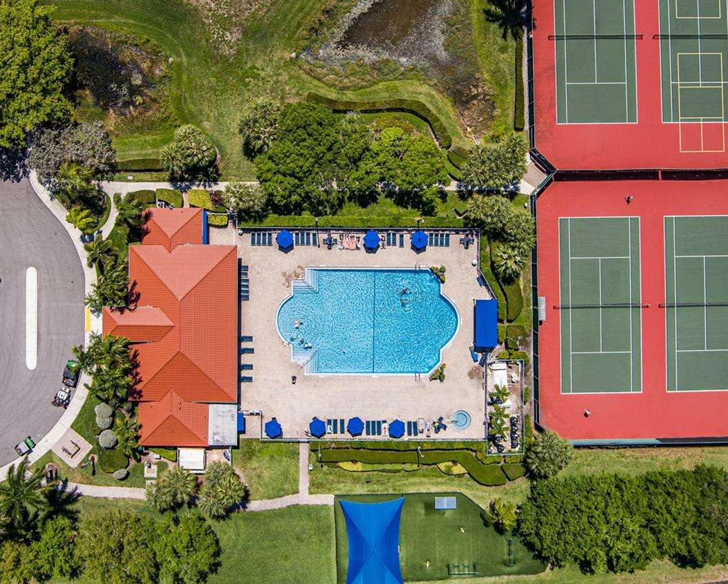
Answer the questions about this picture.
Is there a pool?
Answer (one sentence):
Yes, there's a pool here.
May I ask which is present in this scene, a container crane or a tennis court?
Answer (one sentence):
I can see a tennis court in this picture.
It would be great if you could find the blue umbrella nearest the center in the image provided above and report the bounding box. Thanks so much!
[363,231,380,249]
